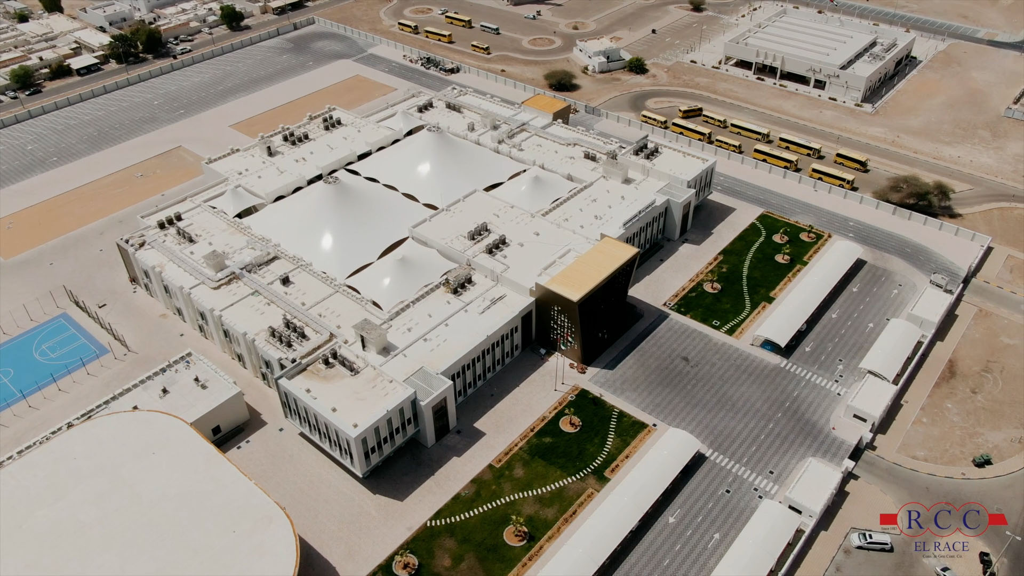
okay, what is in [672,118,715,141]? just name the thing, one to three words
bus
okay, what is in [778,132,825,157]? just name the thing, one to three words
bus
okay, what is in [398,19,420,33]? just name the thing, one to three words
vehicle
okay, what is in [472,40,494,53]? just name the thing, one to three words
vehicle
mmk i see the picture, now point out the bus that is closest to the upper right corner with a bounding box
[833,148,873,171]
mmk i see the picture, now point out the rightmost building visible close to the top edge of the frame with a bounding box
[722,6,919,102]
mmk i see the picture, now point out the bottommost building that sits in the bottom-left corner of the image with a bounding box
[0,401,308,576]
